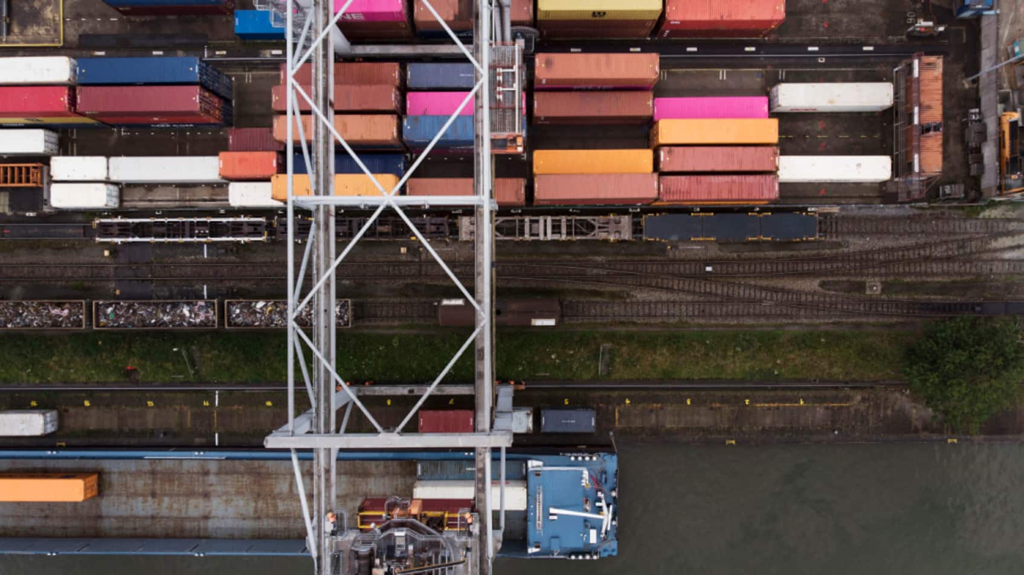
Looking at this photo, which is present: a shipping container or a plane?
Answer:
shipping container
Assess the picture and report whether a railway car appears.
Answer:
Yes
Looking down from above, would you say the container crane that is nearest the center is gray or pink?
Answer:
gray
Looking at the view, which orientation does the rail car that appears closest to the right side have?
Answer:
horizontally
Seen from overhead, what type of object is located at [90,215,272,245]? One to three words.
rail car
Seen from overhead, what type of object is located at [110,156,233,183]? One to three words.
shipping container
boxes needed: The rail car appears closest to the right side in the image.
[639,213,823,240]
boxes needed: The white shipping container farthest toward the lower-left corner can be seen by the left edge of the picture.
[0,409,60,436]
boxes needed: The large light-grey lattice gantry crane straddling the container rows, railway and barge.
[260,0,539,575]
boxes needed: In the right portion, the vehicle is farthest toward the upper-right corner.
[904,0,944,39]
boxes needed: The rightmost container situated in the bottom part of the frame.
[541,407,598,433]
